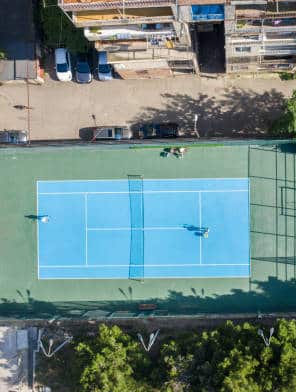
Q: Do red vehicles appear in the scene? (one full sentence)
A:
No, I can see no red vehicle in this picture.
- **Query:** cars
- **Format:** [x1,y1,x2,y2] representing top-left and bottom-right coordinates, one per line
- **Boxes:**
[94,50,114,87]
[94,124,134,143]
[138,121,179,141]
[50,48,71,86]
[72,50,92,88]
